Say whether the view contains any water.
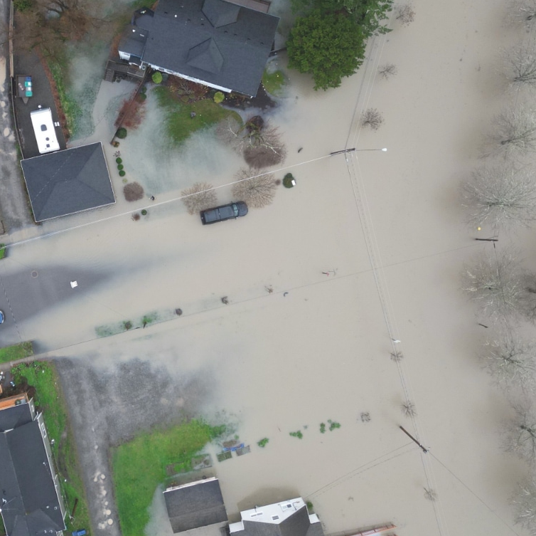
Yes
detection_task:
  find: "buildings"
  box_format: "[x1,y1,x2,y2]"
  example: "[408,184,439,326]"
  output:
[20,141,116,222]
[0,388,66,536]
[163,475,228,534]
[229,497,322,536]
[102,0,280,97]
